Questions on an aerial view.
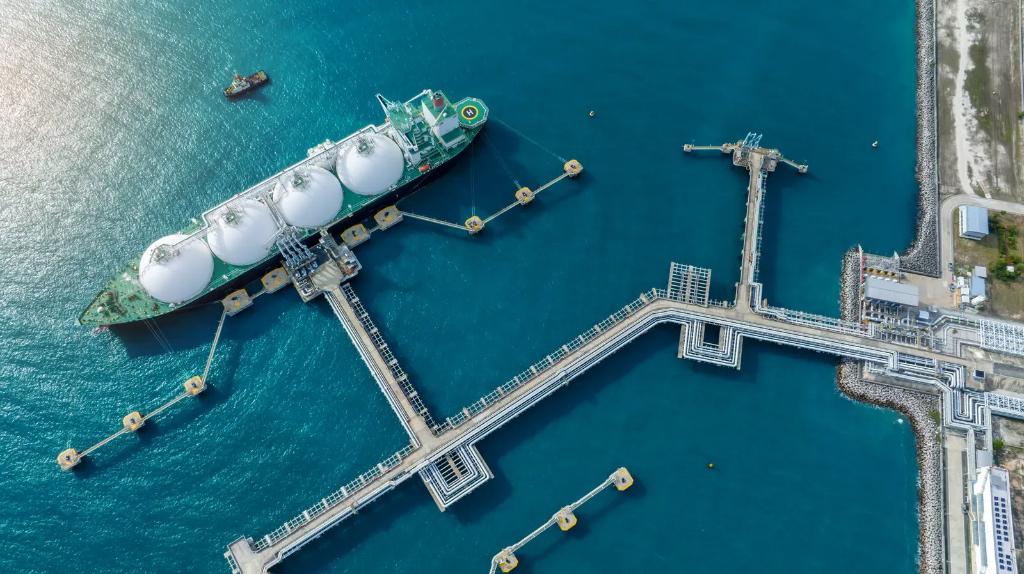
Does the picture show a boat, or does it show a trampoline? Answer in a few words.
boat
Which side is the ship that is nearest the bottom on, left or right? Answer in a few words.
left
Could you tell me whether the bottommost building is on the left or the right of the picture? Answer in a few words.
right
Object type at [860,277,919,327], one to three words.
building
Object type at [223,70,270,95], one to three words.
boat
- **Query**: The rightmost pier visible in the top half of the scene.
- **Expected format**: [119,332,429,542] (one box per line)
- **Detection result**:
[729,141,779,182]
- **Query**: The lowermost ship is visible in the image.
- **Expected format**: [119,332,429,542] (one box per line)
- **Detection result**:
[75,86,487,328]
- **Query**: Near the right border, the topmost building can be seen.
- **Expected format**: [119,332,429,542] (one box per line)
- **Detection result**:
[959,205,989,240]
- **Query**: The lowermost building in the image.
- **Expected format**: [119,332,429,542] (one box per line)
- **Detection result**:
[971,467,1019,574]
